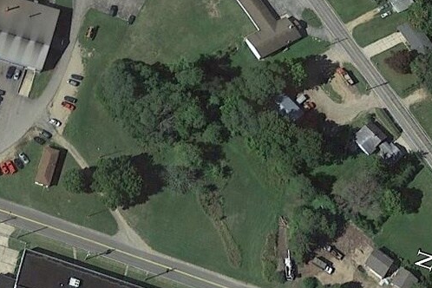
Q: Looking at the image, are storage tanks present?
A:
No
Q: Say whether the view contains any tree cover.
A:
Yes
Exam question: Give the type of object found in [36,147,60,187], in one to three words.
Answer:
house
